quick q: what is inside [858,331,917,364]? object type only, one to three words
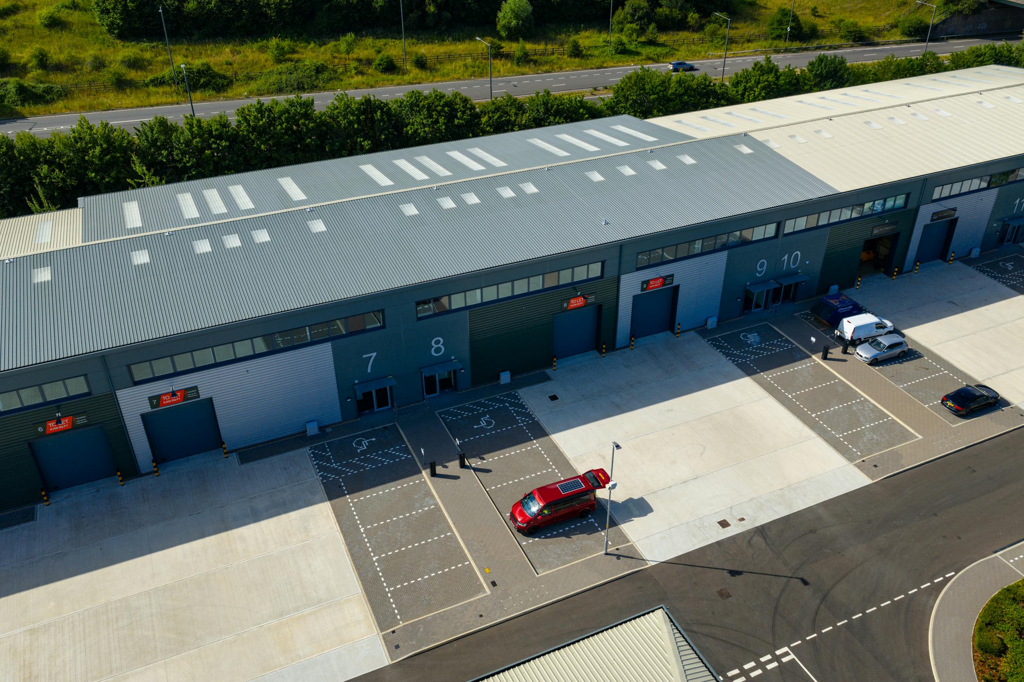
car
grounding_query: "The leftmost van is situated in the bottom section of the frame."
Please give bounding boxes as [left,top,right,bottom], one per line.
[506,465,611,538]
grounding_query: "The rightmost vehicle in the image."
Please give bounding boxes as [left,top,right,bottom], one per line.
[944,381,1011,416]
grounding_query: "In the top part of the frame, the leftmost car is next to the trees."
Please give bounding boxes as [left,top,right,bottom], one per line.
[667,58,697,71]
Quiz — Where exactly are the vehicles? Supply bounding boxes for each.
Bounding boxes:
[944,381,1011,416]
[858,331,917,364]
[506,465,611,538]
[667,58,697,71]
[837,311,897,345]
